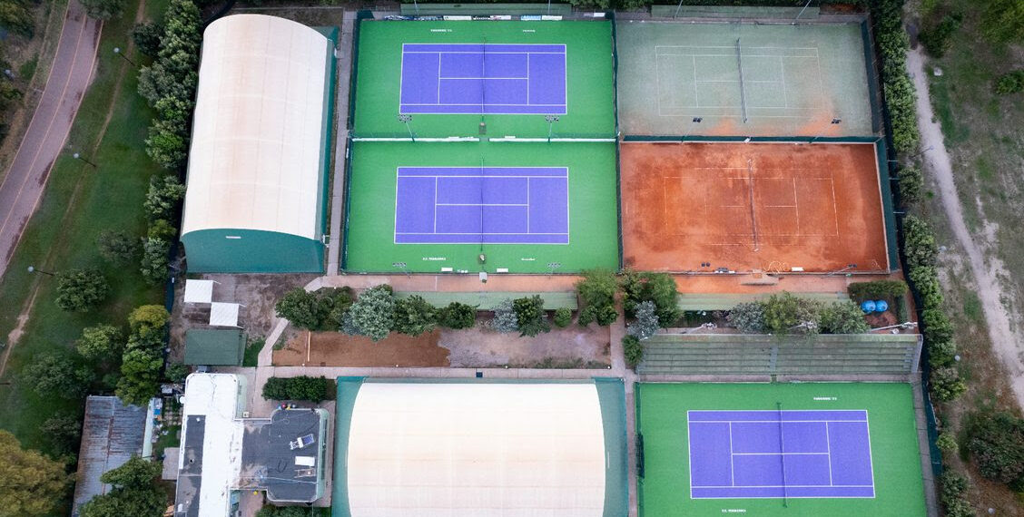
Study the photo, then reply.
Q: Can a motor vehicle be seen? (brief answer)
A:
No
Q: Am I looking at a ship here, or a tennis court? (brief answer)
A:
tennis court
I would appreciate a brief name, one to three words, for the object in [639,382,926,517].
tennis court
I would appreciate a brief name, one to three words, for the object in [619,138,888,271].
tennis court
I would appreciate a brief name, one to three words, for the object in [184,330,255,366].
shed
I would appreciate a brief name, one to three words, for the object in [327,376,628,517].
building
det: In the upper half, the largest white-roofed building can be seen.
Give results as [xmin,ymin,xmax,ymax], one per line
[177,12,339,273]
